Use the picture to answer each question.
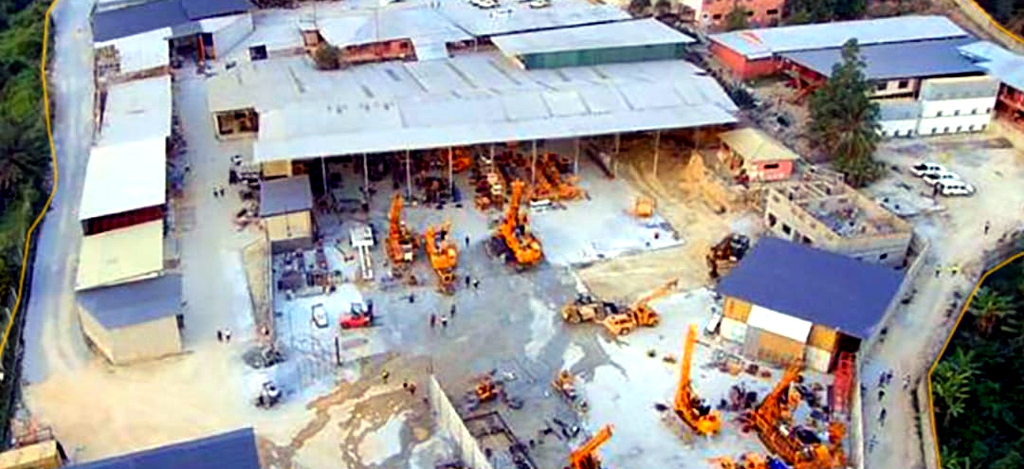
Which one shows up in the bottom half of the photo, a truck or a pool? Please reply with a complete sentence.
Visible in the bottom half of the photo is a truck.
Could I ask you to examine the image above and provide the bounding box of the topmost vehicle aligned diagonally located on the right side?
[706,232,751,279]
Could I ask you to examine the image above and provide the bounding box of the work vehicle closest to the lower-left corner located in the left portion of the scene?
[244,380,282,418]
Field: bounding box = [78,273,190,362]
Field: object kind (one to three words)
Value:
building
